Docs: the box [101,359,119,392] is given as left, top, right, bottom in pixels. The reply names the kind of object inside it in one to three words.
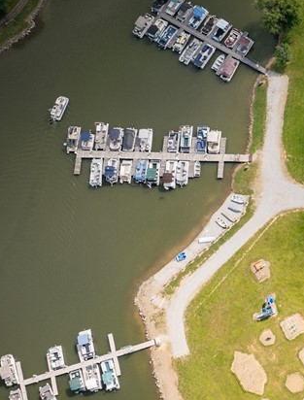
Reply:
boat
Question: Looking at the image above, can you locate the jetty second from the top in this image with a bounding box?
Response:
[74,134,252,178]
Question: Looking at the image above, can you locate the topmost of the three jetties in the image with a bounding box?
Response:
[145,0,271,77]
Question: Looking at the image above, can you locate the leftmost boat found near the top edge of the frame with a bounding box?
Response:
[132,13,155,40]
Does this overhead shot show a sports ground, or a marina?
marina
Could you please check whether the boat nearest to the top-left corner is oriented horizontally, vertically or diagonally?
diagonally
